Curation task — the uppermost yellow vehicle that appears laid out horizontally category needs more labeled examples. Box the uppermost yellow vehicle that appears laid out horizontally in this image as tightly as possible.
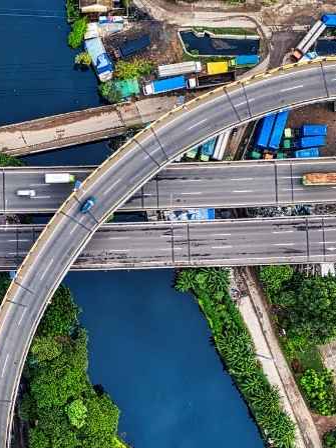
[195,62,230,78]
